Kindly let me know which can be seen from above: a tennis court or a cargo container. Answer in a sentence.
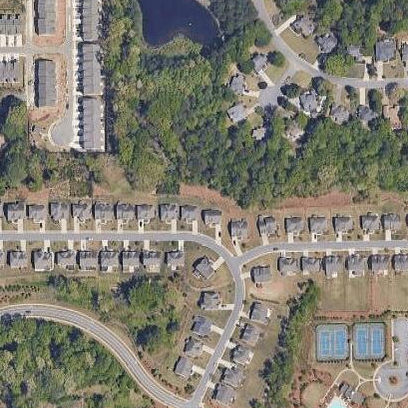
Visible in the photo is a tennis court.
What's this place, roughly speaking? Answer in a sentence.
What you see here is a residential area.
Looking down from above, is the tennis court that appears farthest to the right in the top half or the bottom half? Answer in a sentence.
The bottom half of the photo is where the tennis court that appears farthest to the right is.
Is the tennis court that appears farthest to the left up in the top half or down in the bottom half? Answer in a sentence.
The tennis court that appears farthest to the left sits in the bottom half of the picture.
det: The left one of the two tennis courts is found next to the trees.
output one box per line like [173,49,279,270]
[316,323,349,361]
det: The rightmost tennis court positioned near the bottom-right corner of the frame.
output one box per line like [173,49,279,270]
[353,322,387,360]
